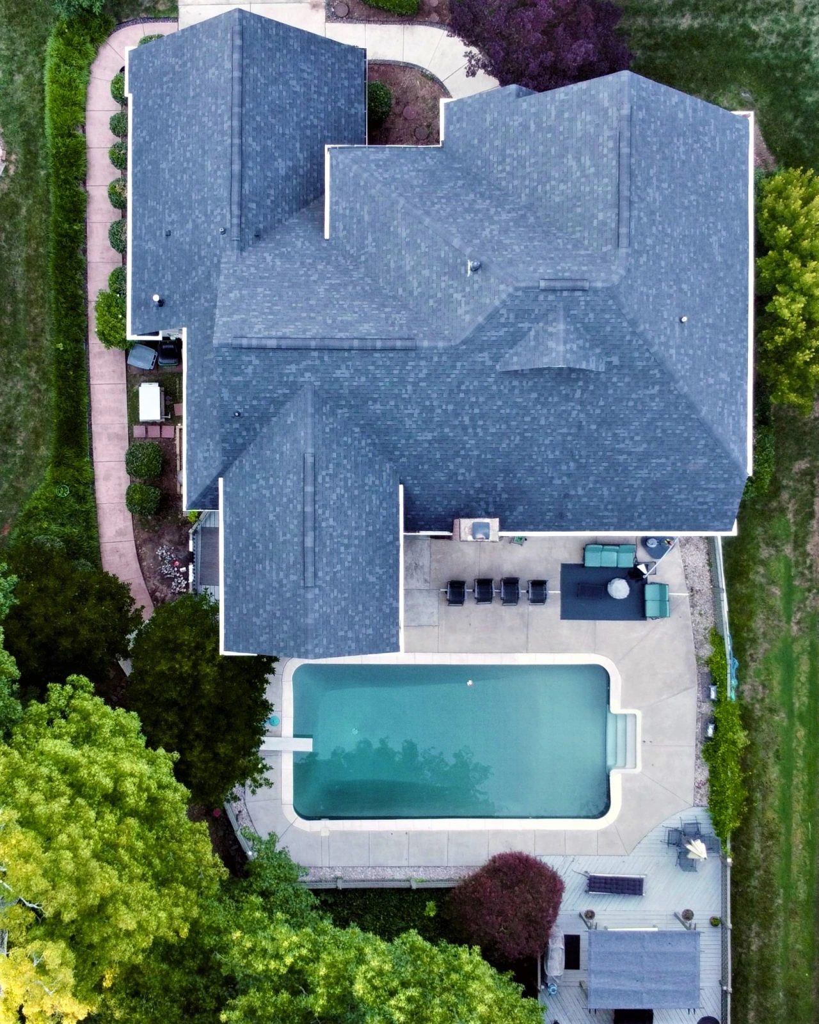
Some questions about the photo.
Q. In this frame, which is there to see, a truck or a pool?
pool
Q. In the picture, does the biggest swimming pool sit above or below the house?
below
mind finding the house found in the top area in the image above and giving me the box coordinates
[125,9,755,659]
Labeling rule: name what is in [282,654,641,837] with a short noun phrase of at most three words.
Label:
swimming pool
